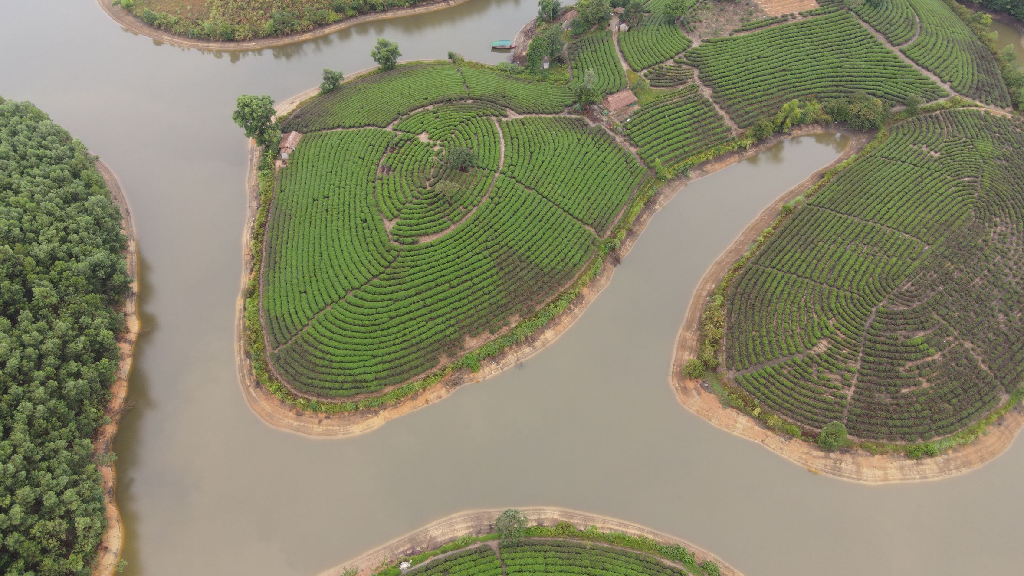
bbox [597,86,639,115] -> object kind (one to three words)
house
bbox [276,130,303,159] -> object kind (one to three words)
shed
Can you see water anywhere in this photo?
Yes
